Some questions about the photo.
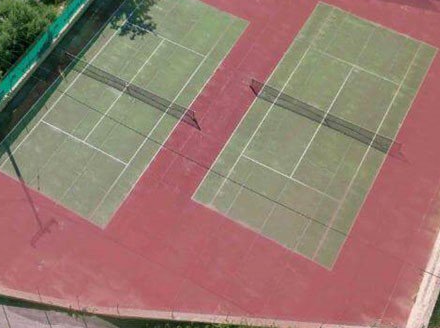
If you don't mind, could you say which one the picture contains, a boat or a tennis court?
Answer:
tennis court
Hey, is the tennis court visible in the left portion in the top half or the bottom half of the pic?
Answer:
top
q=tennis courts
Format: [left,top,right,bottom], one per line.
[193,2,438,269]
[0,0,249,228]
